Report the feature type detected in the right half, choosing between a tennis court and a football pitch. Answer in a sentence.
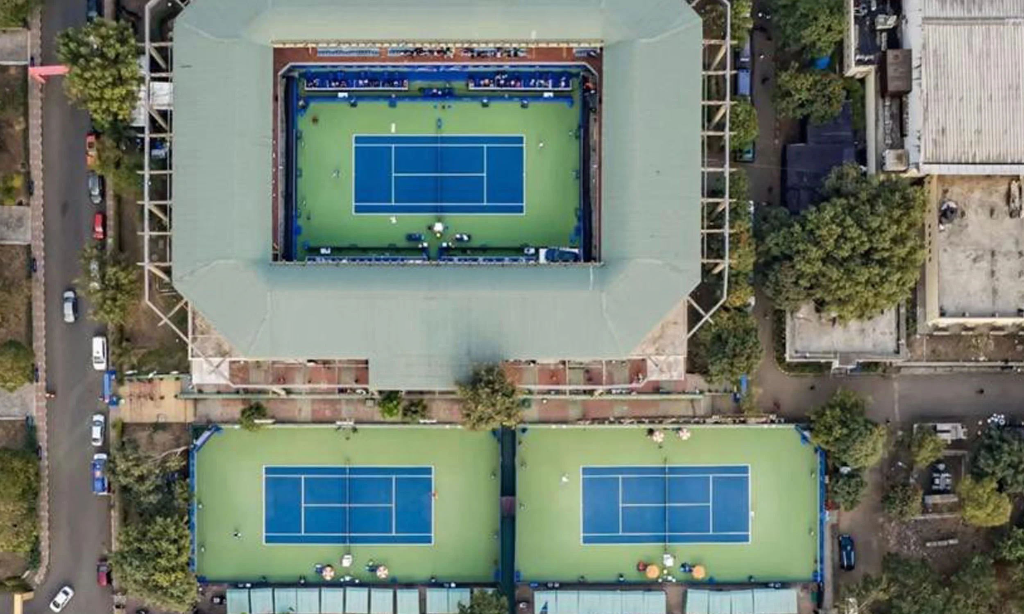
Looking in the right half, you will find a tennis court.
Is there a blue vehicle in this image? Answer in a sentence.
Yes, I can see a blue vehicle in this picture.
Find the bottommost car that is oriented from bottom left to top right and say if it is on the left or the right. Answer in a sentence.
You can find the bottommost car that is oriented from bottom left to top right on the left side of the picture.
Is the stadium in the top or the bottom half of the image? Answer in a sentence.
It is in the top half that the stadium appears.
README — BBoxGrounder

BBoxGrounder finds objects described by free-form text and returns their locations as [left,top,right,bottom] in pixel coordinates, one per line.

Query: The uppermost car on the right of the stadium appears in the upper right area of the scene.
[737,37,752,68]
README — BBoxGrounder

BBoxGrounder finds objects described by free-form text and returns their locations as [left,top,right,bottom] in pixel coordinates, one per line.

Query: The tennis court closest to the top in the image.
[287,71,590,263]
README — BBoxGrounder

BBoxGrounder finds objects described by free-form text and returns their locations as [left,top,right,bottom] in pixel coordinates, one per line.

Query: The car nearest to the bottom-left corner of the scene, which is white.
[49,584,77,614]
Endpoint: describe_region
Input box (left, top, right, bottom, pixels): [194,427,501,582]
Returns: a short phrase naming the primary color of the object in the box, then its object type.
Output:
green tennis court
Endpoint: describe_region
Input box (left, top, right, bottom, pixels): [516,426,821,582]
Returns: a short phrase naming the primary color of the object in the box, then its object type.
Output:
green tennis court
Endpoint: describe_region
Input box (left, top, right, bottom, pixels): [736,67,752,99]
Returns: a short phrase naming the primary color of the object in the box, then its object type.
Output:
blue vehicle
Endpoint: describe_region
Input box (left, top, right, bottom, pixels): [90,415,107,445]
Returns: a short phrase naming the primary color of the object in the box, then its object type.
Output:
white car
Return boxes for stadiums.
[137,0,738,395]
